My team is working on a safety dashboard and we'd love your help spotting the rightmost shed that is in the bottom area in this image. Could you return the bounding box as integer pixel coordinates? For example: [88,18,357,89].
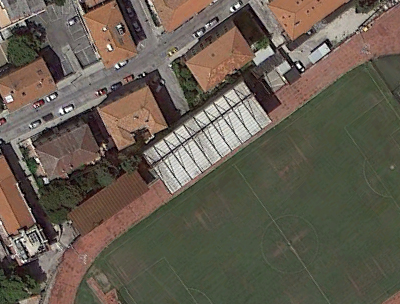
[68,170,149,235]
